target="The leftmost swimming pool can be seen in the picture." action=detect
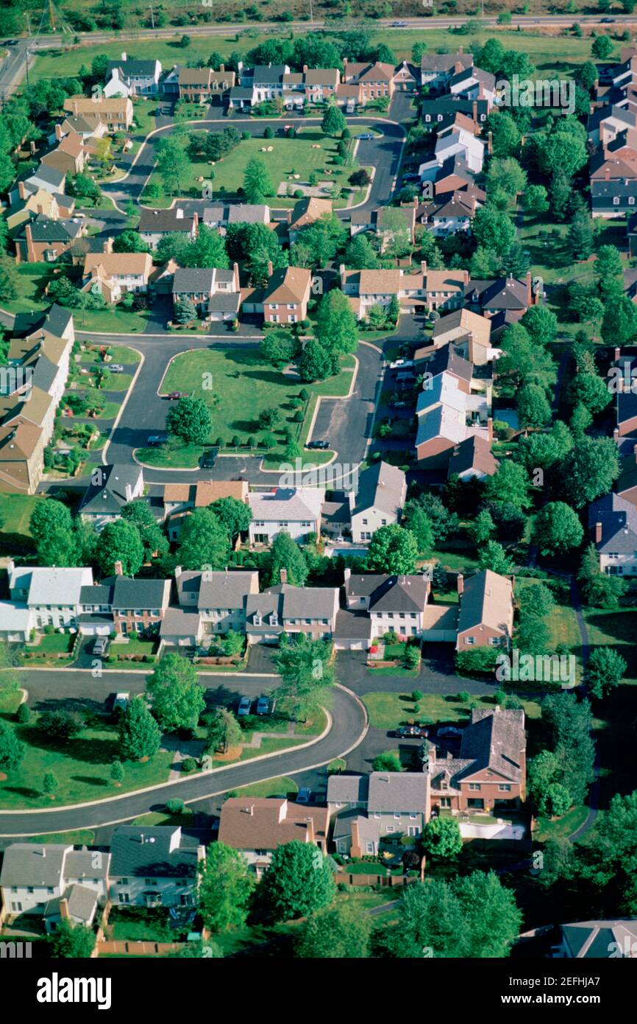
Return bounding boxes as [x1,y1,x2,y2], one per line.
[338,545,373,558]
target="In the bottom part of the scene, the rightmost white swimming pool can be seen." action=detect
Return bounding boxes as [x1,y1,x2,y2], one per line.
[460,820,526,838]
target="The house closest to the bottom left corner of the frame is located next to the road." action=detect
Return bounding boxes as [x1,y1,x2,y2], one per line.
[0,841,112,939]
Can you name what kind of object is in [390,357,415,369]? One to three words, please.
vehicle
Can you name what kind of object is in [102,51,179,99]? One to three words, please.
house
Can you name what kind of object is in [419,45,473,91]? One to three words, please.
house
